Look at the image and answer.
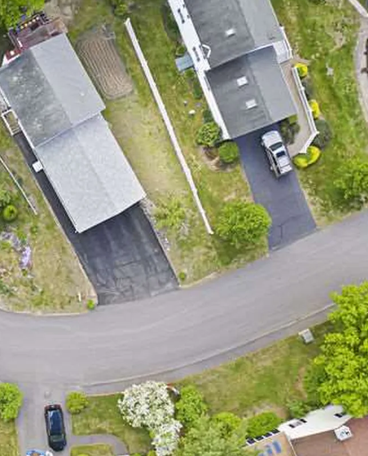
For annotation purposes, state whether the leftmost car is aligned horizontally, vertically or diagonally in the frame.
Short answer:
vertically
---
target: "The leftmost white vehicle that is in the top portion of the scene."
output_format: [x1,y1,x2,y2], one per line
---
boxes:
[258,126,297,181]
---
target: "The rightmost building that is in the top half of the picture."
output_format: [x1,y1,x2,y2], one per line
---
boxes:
[164,0,300,140]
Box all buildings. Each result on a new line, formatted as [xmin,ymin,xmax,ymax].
[0,16,147,233]
[236,405,368,456]
[164,0,300,140]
